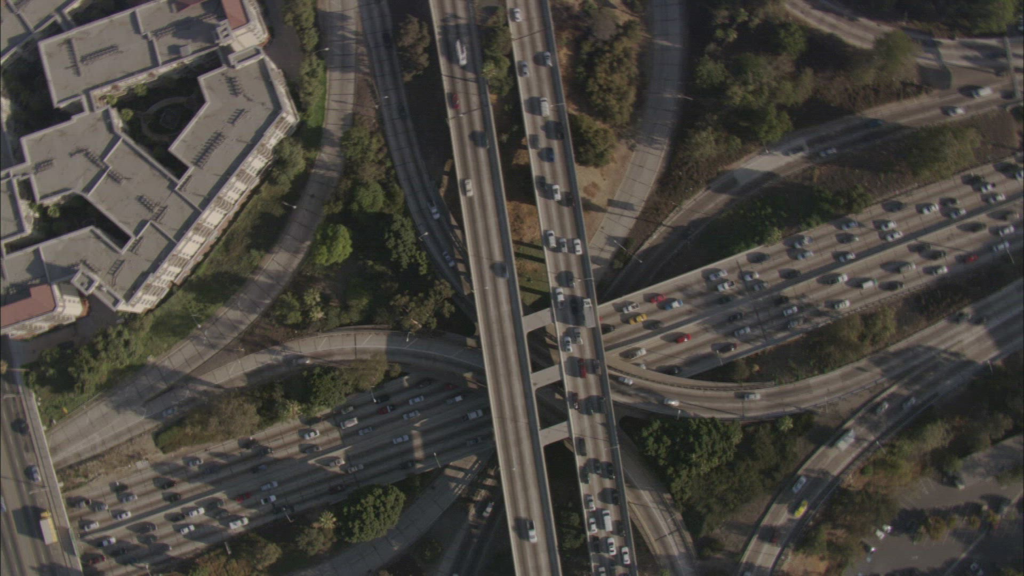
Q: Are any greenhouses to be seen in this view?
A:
No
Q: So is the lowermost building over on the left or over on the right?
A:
left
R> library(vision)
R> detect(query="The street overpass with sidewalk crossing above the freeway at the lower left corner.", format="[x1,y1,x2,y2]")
[0,269,87,576]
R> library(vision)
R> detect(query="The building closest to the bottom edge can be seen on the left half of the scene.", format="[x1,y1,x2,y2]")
[0,283,97,345]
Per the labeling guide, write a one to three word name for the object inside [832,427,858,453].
truck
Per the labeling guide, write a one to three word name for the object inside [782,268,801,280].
vehicle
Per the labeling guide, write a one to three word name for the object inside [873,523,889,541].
car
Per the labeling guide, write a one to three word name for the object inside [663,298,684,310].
vehicle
